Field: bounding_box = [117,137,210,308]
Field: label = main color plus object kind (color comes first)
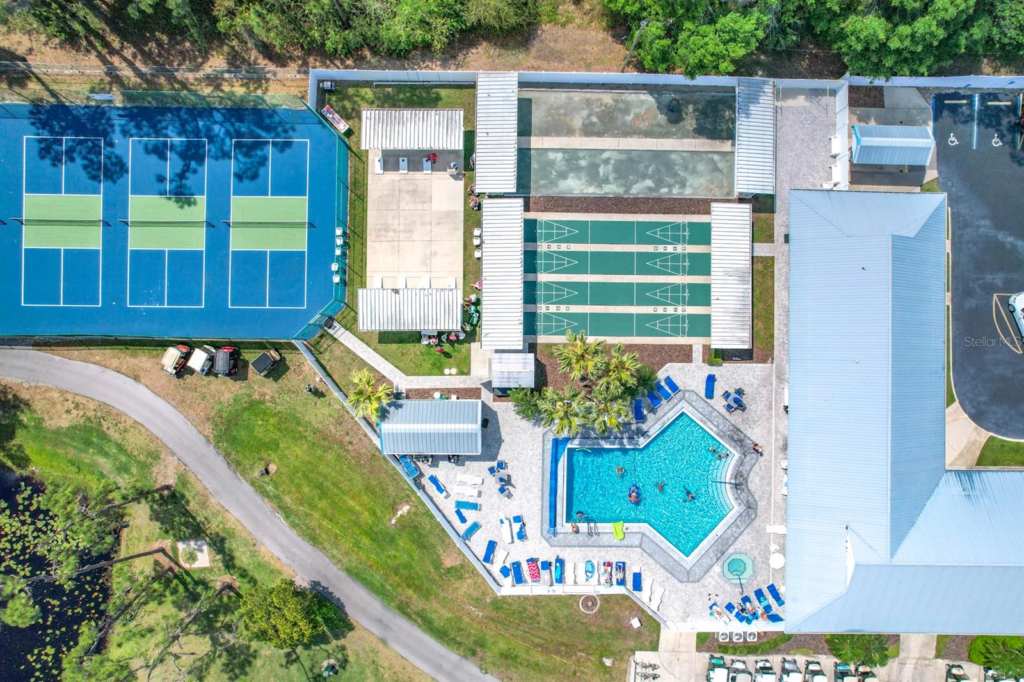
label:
blue sports court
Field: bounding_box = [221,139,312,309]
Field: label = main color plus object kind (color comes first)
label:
blue sports court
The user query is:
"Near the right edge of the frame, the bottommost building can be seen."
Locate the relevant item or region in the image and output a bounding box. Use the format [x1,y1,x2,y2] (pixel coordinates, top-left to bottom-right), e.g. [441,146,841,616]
[779,190,1024,637]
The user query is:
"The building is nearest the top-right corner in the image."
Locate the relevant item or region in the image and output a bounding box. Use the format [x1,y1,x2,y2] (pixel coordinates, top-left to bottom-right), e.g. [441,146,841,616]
[848,124,939,168]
